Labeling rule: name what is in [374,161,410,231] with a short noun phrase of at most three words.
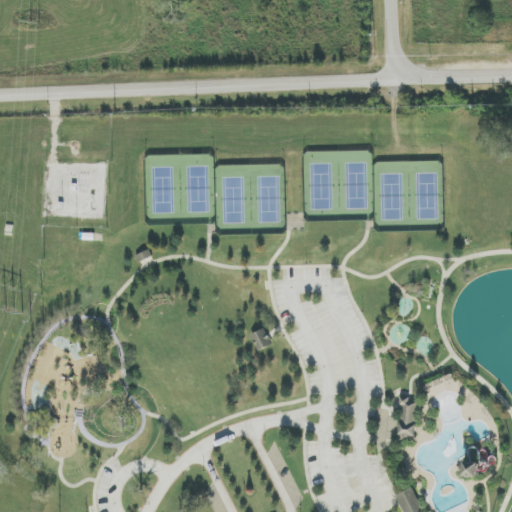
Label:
tennis court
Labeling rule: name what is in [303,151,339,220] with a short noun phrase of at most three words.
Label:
tennis court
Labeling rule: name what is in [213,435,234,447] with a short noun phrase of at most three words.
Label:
vehicle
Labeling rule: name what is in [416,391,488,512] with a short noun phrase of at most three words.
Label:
swimming pool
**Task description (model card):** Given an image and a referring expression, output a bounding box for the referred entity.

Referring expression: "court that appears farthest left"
[145,154,182,224]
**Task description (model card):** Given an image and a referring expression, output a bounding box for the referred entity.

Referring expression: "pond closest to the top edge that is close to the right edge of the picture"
[454,268,512,391]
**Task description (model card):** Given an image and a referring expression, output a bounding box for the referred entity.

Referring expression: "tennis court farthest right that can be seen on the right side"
[408,160,444,230]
